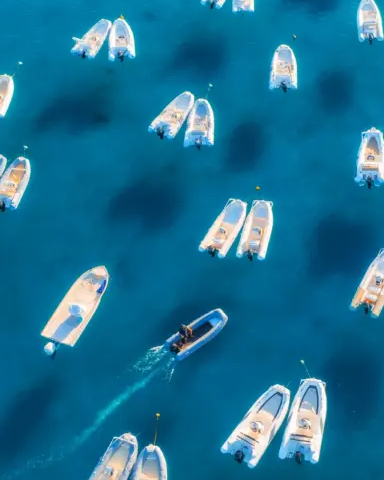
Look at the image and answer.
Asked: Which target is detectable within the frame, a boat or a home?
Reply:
boat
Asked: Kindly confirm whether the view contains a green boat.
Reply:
No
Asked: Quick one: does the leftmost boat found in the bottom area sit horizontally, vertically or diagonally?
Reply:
diagonally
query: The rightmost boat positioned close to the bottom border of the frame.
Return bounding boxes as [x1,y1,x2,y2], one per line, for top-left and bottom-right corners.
[280,378,326,466]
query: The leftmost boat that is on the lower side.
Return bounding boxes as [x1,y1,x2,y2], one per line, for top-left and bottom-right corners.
[41,265,108,355]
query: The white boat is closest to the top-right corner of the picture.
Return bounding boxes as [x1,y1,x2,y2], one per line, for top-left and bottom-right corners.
[357,0,383,47]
